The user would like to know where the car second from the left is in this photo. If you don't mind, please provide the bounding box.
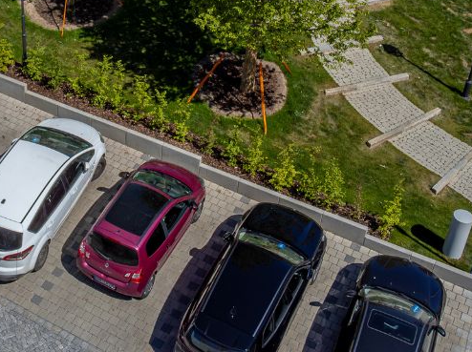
[72,165,204,302]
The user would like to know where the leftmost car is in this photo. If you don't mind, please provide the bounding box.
[0,116,108,280]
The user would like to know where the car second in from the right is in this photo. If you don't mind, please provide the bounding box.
[172,200,331,352]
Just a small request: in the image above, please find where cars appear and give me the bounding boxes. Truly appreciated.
[172,200,331,352]
[72,165,204,302]
[315,251,449,352]
[0,116,108,280]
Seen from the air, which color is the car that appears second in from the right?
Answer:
black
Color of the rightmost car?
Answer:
black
